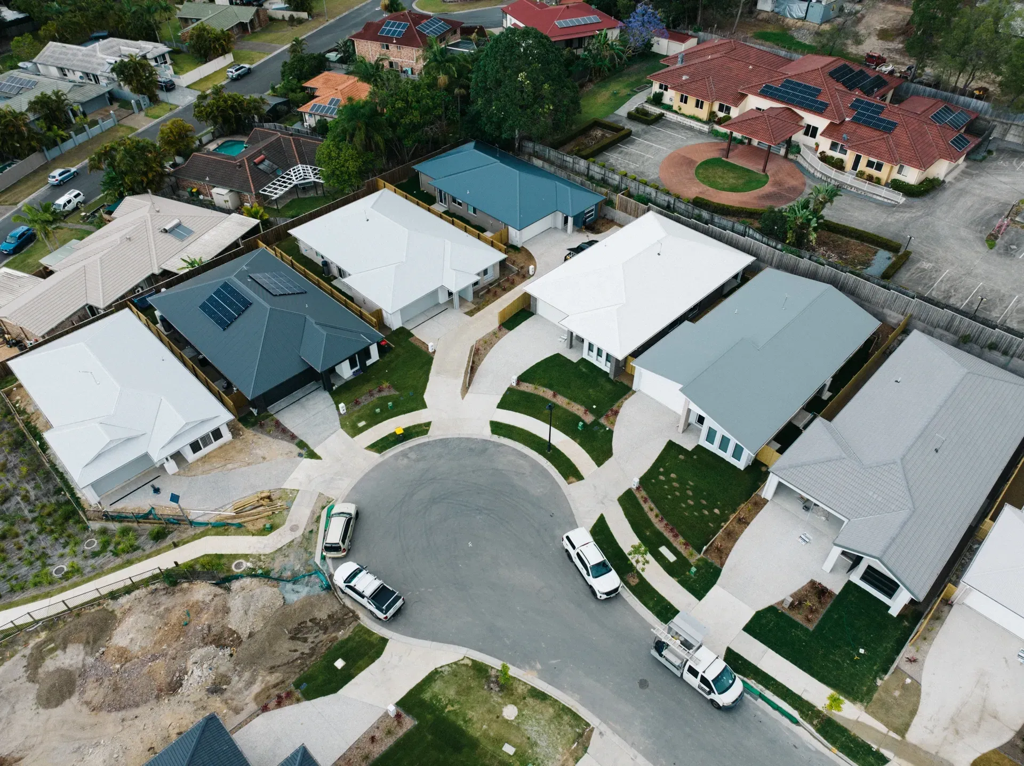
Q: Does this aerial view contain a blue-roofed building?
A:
Yes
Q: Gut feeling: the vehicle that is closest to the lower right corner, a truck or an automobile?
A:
truck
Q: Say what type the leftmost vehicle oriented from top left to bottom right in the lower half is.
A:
truck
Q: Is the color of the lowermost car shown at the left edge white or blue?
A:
blue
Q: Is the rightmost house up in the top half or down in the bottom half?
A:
bottom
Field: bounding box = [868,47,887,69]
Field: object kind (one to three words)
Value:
vehicle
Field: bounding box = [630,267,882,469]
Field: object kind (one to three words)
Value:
house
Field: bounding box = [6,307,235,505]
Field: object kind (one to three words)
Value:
house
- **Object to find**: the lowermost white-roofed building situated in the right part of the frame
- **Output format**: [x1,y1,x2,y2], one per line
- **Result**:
[953,504,1024,640]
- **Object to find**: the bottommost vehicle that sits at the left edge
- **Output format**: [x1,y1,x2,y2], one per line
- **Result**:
[0,227,39,254]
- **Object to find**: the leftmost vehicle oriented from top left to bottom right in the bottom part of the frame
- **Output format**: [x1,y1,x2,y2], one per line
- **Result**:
[334,560,404,621]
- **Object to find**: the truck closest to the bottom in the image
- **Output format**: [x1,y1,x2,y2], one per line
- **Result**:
[650,618,747,717]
